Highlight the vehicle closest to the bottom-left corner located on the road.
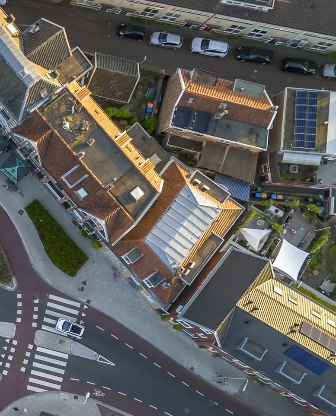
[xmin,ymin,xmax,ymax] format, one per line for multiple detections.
[54,317,90,339]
